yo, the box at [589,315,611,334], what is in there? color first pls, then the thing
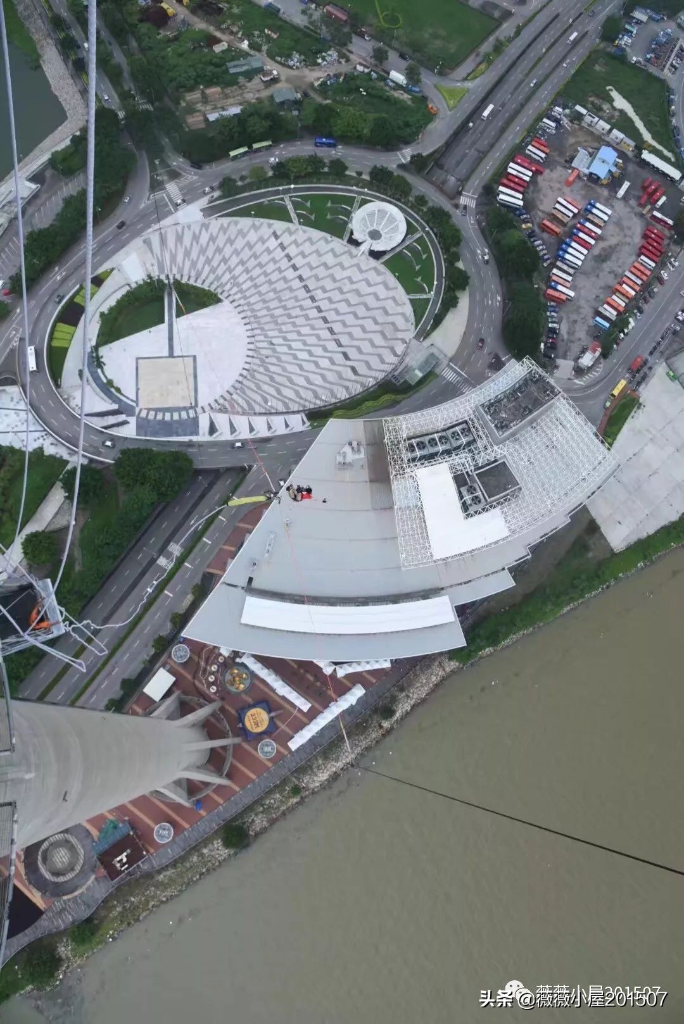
blue vehicle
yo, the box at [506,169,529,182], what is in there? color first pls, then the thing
white vehicle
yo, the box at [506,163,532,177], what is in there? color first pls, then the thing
white vehicle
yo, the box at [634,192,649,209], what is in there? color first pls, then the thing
red vehicle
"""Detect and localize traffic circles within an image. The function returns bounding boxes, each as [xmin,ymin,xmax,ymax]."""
[49,182,446,439]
